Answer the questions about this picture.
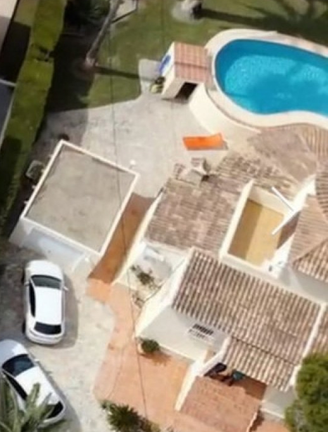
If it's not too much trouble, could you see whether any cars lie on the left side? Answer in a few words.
Yes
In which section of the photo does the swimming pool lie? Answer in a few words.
top right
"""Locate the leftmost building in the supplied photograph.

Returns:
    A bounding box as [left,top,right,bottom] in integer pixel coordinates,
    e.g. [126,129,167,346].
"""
[11,142,139,280]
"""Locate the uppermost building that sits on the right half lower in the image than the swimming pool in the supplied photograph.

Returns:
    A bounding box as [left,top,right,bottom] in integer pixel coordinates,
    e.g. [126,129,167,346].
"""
[133,123,328,386]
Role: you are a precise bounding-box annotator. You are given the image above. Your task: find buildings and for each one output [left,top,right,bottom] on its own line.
[159,43,209,102]
[133,123,328,386]
[11,142,139,280]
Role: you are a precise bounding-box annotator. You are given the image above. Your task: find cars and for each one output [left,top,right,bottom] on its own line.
[0,344,69,432]
[23,259,71,345]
